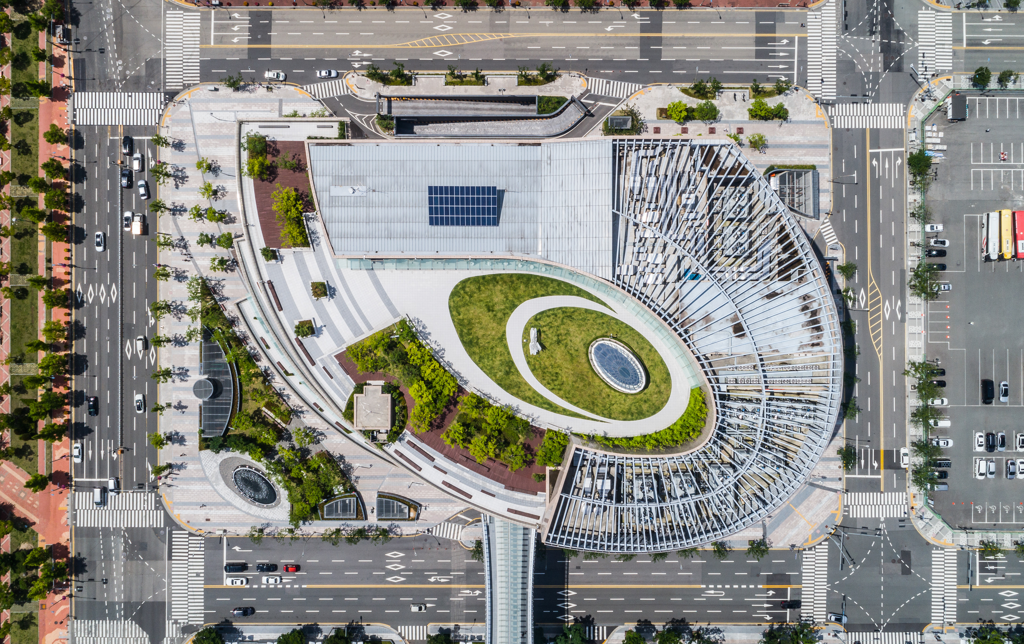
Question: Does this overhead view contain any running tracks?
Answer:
No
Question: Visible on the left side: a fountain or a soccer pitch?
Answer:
fountain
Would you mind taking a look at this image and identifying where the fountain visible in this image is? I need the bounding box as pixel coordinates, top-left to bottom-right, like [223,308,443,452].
[233,468,278,505]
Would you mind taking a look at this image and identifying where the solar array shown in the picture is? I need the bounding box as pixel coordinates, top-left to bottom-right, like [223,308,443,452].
[428,186,497,226]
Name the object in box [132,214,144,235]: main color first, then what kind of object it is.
white vehicle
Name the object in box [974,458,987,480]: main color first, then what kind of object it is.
white vehicle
